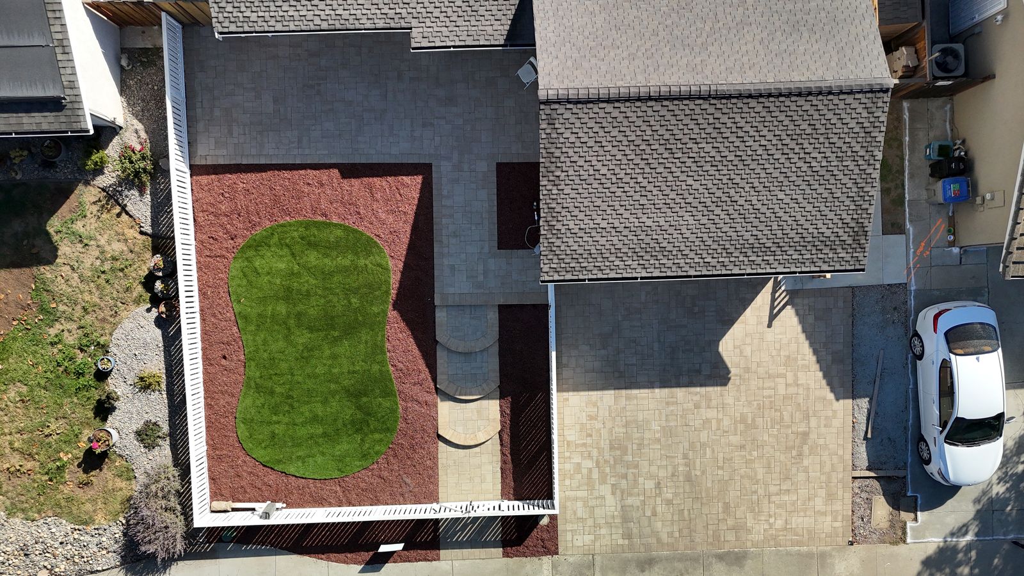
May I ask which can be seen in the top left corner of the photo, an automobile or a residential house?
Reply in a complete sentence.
You can see a residential house in the top left corner of the photo.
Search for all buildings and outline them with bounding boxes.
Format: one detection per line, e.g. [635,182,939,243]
[951,0,1024,283]
[210,0,893,284]
[0,0,125,140]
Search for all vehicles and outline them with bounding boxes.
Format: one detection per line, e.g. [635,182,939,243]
[911,300,1019,485]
